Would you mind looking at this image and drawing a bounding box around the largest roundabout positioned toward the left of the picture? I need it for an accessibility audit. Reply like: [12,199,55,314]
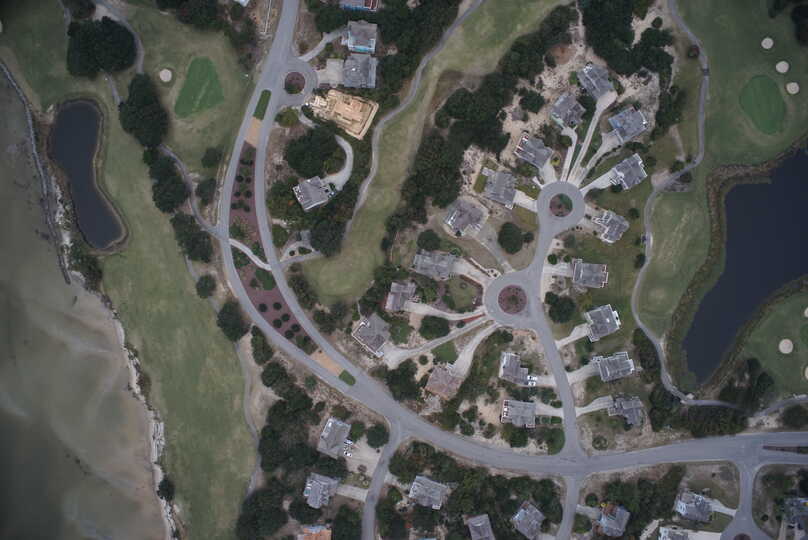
[272,60,317,105]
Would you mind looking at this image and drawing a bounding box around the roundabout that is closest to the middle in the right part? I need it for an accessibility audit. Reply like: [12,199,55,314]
[485,272,540,328]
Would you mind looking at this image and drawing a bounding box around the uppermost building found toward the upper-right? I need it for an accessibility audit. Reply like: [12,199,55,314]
[577,62,612,99]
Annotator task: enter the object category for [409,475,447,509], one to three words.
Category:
house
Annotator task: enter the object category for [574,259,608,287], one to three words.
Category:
house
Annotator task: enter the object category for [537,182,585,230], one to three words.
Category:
roundabout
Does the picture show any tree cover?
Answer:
Yes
